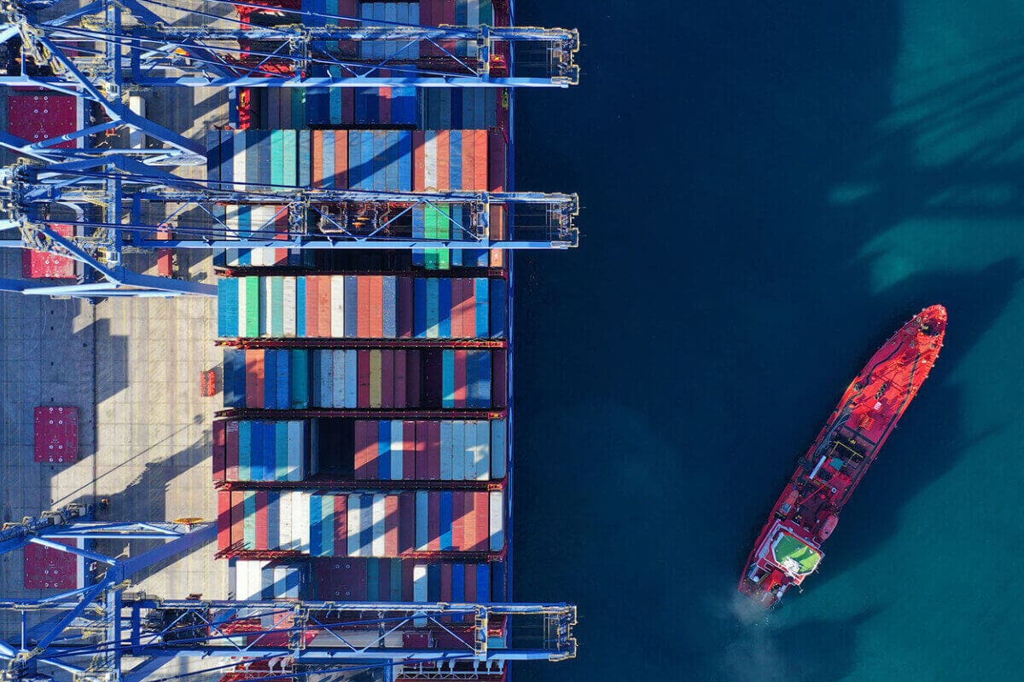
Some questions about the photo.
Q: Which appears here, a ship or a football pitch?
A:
ship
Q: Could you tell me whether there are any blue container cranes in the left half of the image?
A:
Yes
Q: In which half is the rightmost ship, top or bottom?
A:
bottom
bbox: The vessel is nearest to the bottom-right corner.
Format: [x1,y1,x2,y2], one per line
[739,306,943,606]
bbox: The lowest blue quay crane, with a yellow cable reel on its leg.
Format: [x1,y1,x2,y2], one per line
[0,501,586,682]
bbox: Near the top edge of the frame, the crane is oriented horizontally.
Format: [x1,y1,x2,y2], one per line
[0,0,583,181]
